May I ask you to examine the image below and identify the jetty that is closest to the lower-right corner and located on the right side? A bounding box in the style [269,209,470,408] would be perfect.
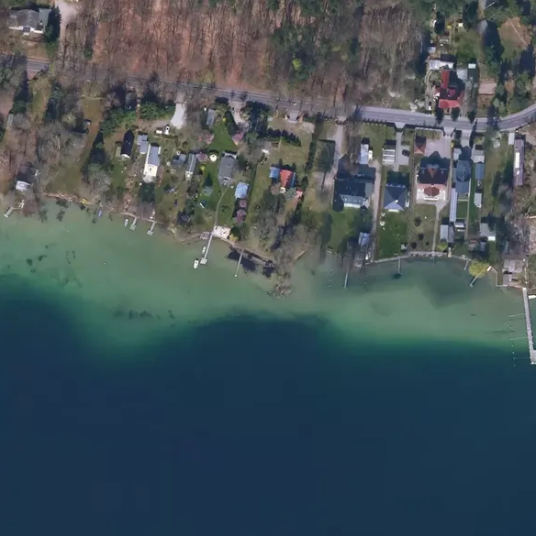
[523,287,536,364]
